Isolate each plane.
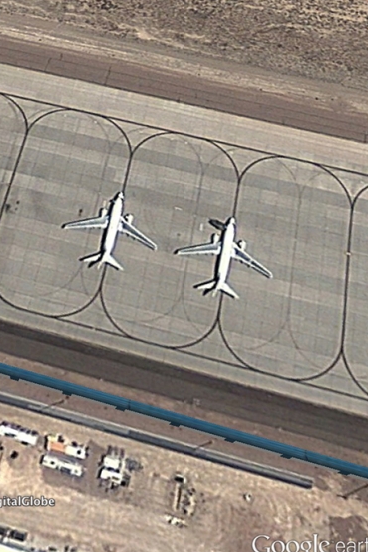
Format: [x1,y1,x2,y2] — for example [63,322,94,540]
[178,217,276,300]
[63,190,157,271]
